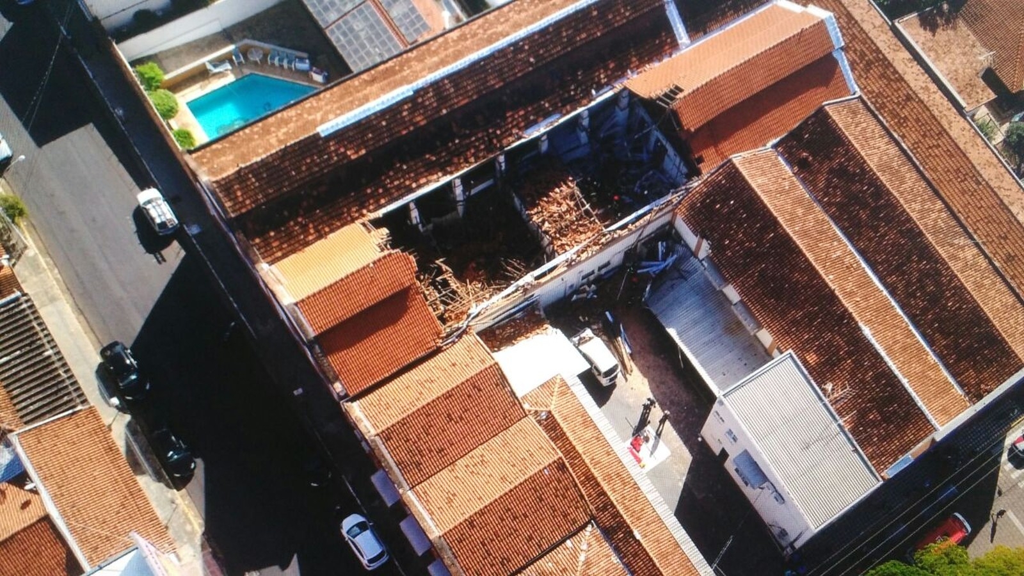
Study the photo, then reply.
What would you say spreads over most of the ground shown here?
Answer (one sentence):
For the most part, this view shows buildings.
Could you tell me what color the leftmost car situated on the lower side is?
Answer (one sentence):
The color of the leftmost car situated on the lower side is black.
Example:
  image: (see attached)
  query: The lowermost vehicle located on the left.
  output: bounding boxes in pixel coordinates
[341,514,391,576]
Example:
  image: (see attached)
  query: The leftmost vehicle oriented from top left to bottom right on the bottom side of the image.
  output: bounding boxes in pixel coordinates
[101,336,152,401]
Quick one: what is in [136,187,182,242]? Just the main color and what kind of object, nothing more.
white car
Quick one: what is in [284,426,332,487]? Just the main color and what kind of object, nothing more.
black car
